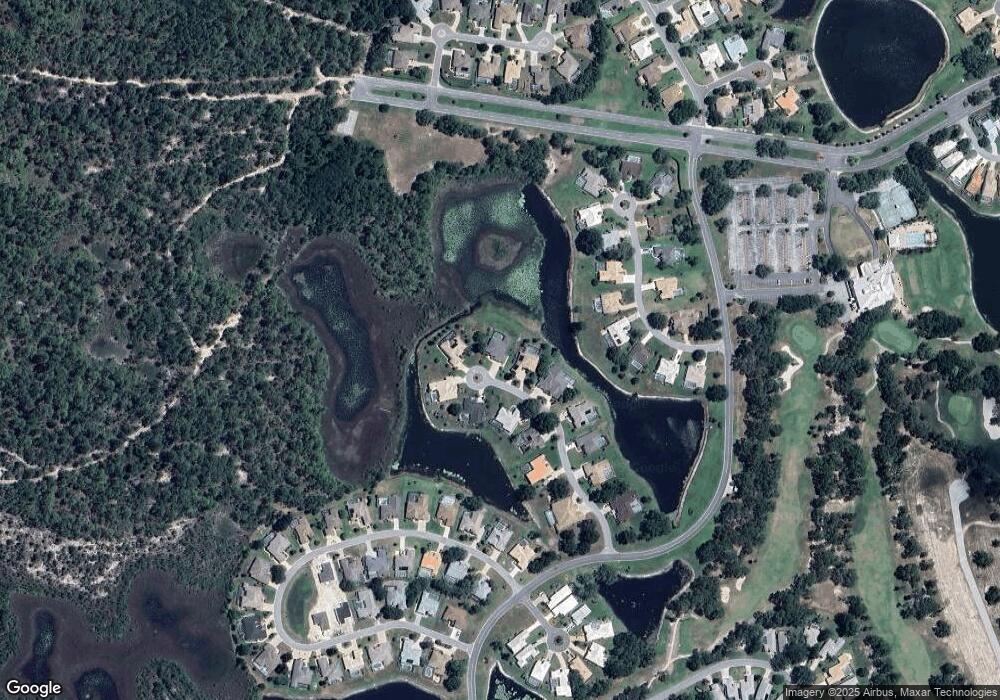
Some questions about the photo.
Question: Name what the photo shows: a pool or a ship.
pool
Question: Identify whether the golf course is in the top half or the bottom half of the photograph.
bottom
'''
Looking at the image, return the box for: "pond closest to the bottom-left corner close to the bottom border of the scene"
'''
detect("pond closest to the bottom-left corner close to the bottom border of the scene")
[261,678,445,700]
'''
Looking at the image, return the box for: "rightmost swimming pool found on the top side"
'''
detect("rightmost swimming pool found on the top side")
[889,221,937,249]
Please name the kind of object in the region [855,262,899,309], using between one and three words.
building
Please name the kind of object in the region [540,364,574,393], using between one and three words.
house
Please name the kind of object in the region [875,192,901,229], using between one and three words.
tennis court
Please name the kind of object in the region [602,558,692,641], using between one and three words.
pond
